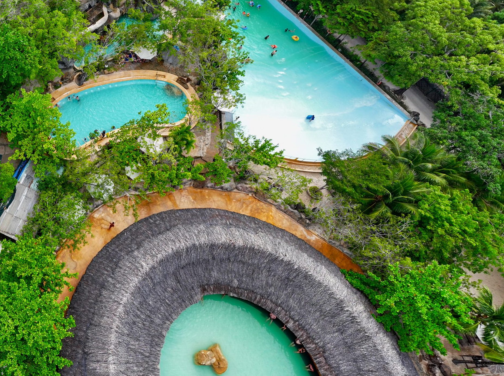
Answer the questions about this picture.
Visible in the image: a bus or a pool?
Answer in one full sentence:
Visible in the photo is a pool.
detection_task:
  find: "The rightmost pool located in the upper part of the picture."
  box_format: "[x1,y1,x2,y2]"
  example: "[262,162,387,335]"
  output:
[216,0,414,170]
